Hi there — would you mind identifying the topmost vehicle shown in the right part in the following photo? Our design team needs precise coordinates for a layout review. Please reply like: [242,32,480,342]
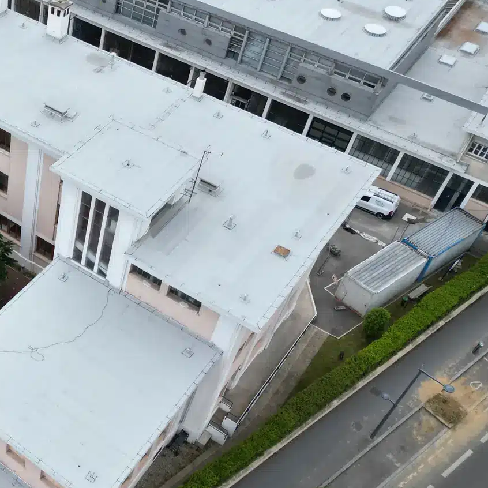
[357,184,406,222]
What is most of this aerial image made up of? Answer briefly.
buildings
